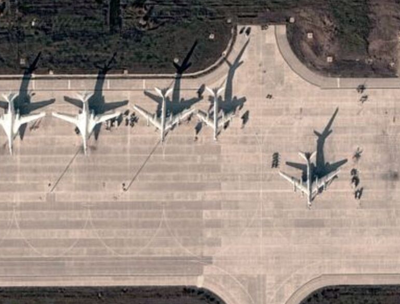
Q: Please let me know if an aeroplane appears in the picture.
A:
Yes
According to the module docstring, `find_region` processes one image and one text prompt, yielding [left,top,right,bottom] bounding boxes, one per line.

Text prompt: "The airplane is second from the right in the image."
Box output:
[196,83,234,139]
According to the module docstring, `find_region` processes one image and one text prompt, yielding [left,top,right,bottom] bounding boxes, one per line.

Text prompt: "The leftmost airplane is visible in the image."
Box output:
[0,94,45,153]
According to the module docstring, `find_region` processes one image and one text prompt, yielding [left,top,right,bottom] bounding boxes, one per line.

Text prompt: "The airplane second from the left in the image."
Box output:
[52,93,119,153]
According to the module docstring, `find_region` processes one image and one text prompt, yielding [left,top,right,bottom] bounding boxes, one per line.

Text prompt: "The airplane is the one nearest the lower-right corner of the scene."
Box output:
[278,150,338,205]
